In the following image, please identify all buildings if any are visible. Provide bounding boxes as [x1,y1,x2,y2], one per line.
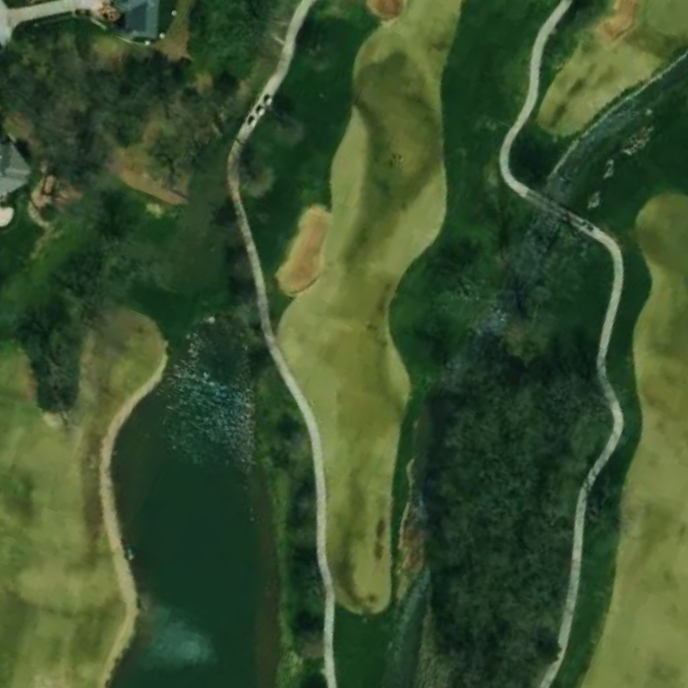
[114,0,162,38]
[0,143,30,205]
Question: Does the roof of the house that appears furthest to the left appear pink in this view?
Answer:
No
